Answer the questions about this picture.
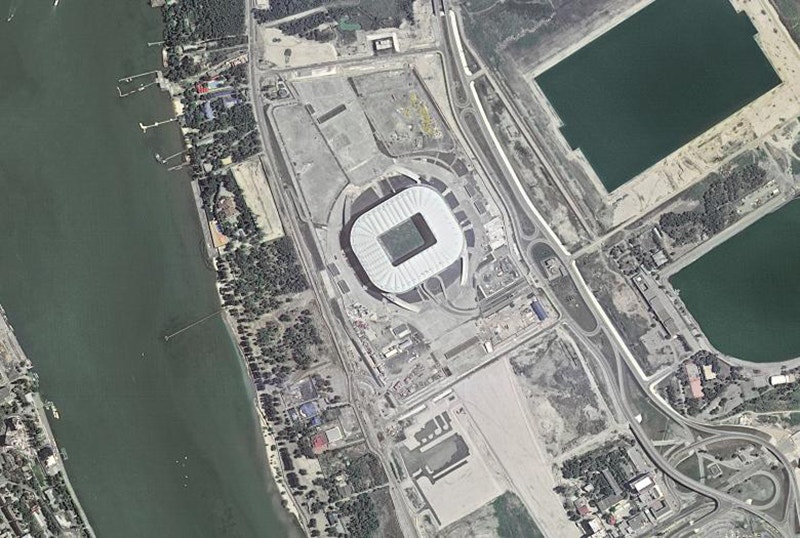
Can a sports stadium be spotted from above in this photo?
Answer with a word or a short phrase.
Yes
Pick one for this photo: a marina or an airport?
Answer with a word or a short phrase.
marina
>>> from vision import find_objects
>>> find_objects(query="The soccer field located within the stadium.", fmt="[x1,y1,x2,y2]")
[377,212,437,266]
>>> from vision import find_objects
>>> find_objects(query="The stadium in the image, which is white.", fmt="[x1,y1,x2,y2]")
[348,183,466,295]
